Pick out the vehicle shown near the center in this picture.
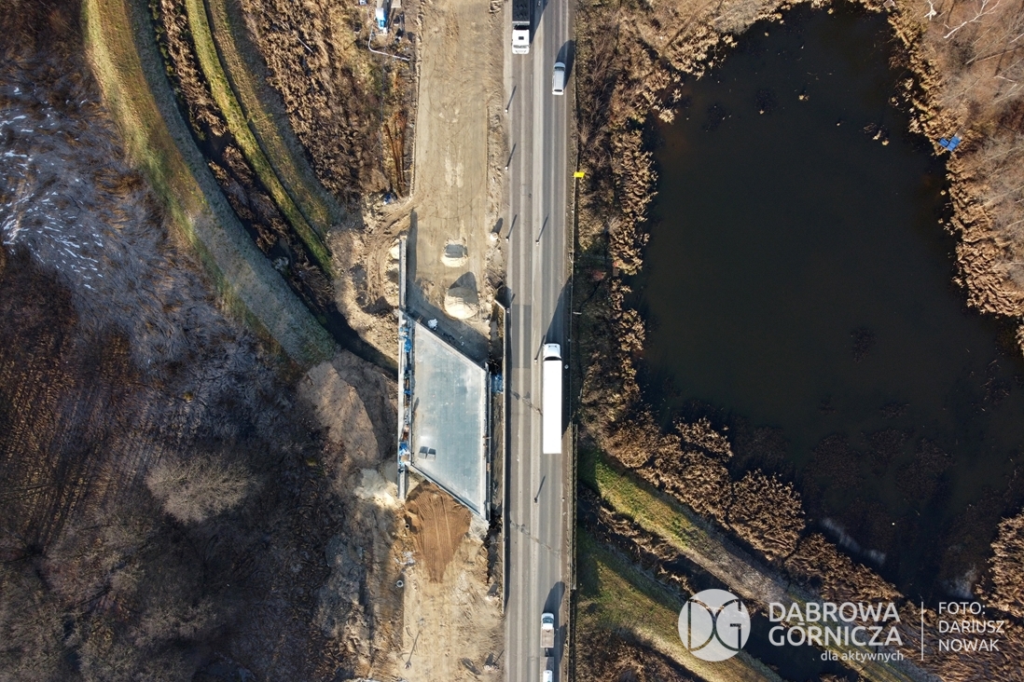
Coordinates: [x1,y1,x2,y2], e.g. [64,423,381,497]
[543,342,561,460]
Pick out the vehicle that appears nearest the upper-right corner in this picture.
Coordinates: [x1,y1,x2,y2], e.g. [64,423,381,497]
[552,63,566,95]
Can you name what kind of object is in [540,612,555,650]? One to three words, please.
vehicle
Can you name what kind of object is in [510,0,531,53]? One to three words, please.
truck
